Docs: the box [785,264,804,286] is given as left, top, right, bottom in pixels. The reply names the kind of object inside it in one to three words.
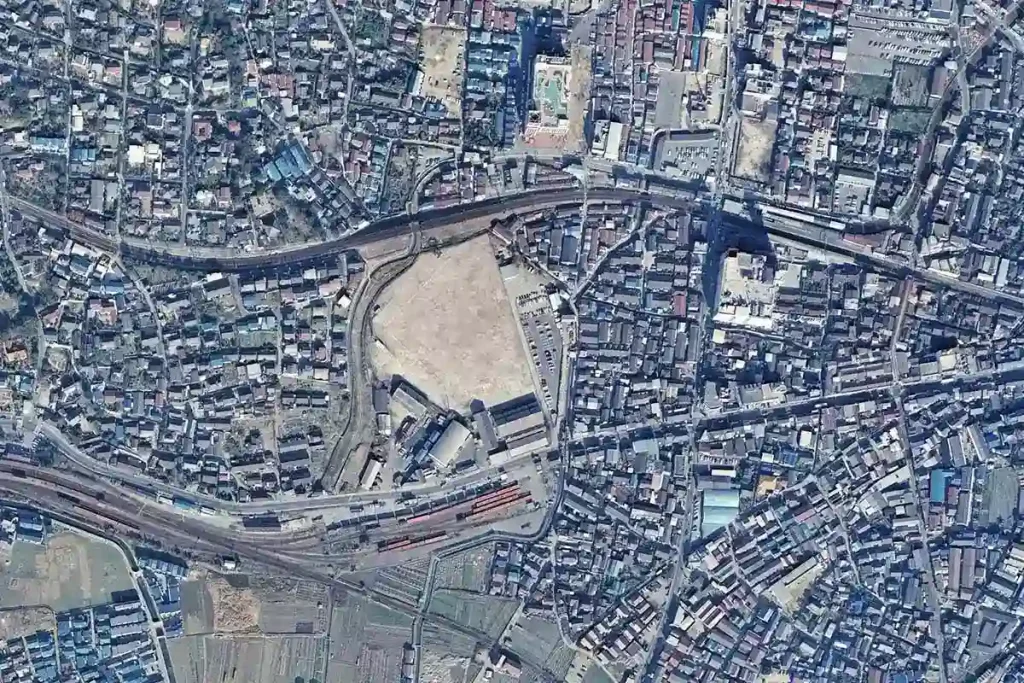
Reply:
building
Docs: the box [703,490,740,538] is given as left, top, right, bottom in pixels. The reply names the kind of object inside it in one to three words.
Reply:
building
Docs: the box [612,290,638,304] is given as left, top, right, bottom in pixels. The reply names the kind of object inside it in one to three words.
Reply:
house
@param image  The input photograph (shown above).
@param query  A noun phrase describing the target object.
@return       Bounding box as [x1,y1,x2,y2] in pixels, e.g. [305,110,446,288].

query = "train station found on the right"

[762,208,875,260]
